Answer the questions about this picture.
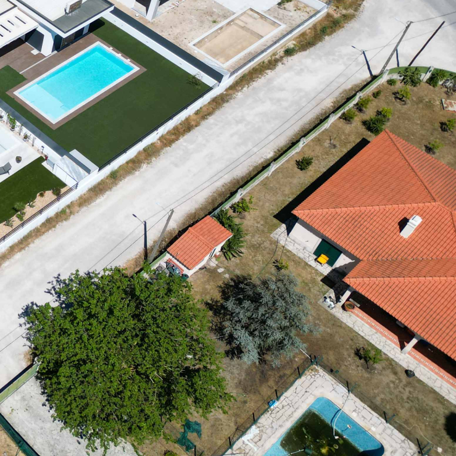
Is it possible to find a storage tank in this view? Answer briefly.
No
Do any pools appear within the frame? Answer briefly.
Yes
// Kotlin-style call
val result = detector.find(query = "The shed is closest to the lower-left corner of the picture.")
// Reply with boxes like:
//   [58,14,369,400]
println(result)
[168,209,241,279]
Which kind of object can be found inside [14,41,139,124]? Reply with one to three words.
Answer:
swimming pool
